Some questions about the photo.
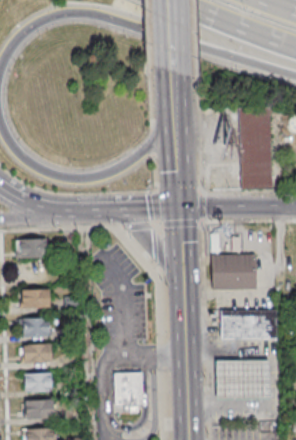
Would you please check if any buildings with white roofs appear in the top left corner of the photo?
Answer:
No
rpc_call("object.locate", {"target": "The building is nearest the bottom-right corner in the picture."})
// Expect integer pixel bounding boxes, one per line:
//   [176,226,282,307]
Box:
[216,358,270,398]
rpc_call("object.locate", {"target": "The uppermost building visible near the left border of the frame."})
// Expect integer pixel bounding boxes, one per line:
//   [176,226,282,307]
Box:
[13,238,46,259]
